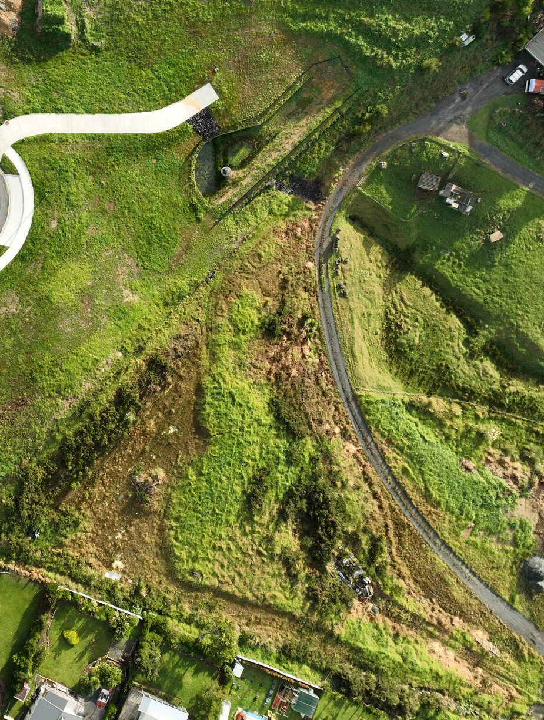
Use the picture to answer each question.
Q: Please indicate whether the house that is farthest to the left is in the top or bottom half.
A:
bottom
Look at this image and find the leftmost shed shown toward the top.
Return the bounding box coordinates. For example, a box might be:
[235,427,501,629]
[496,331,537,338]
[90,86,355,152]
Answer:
[417,172,442,189]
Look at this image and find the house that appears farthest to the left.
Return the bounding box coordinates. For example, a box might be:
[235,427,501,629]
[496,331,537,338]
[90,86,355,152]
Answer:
[34,681,85,720]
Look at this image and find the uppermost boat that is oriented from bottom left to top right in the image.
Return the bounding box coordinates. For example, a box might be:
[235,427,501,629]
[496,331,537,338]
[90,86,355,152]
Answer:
[457,36,475,48]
